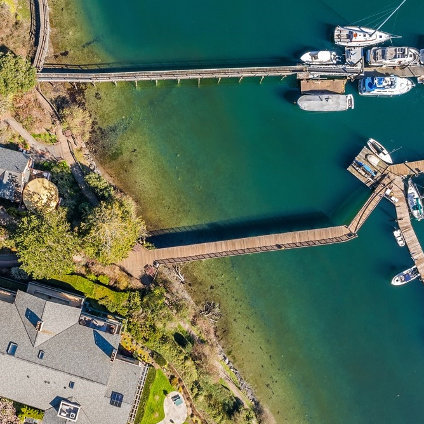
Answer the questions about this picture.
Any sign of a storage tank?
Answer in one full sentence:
No, there appears to be no storage tank in this shot.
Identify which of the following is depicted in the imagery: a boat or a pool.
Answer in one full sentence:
There is a boat in the scene.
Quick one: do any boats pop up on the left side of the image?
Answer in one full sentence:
No, no boat appears on the left side of the image.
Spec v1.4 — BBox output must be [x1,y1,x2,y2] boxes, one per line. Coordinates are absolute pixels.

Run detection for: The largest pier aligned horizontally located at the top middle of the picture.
[35,64,306,86]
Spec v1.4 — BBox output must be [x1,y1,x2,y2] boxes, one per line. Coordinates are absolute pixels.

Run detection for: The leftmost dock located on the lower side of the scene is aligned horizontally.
[116,227,358,285]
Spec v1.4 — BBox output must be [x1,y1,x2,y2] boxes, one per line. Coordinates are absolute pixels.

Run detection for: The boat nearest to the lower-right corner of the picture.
[393,268,423,283]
